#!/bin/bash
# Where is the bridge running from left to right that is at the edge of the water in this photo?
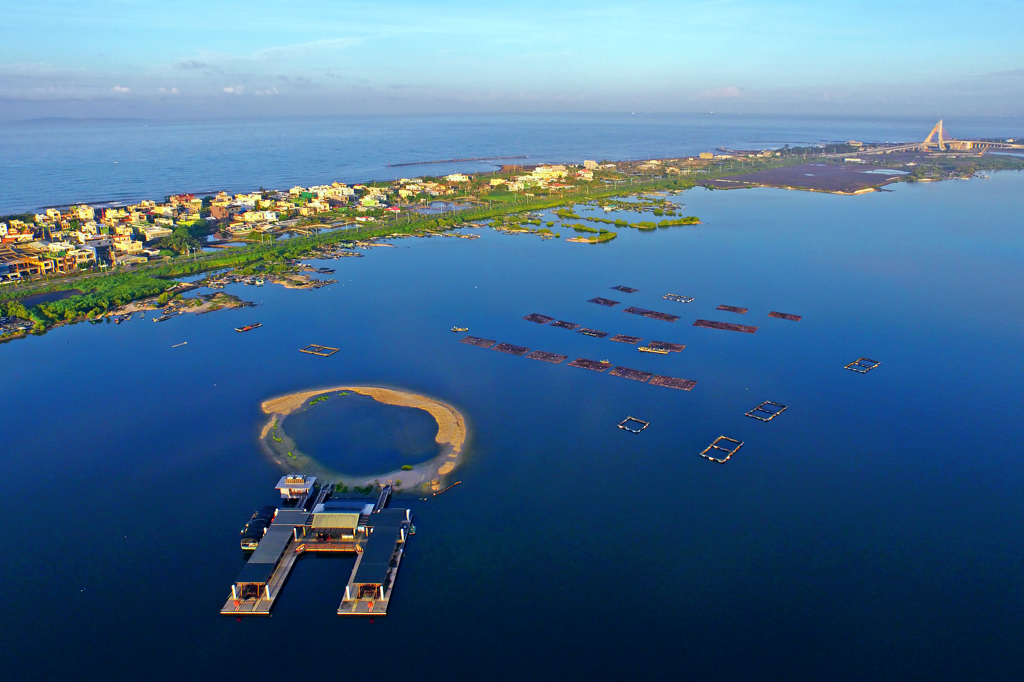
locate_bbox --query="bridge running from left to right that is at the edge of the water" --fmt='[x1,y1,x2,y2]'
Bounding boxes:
[822,120,1024,157]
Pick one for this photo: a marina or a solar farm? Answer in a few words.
marina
